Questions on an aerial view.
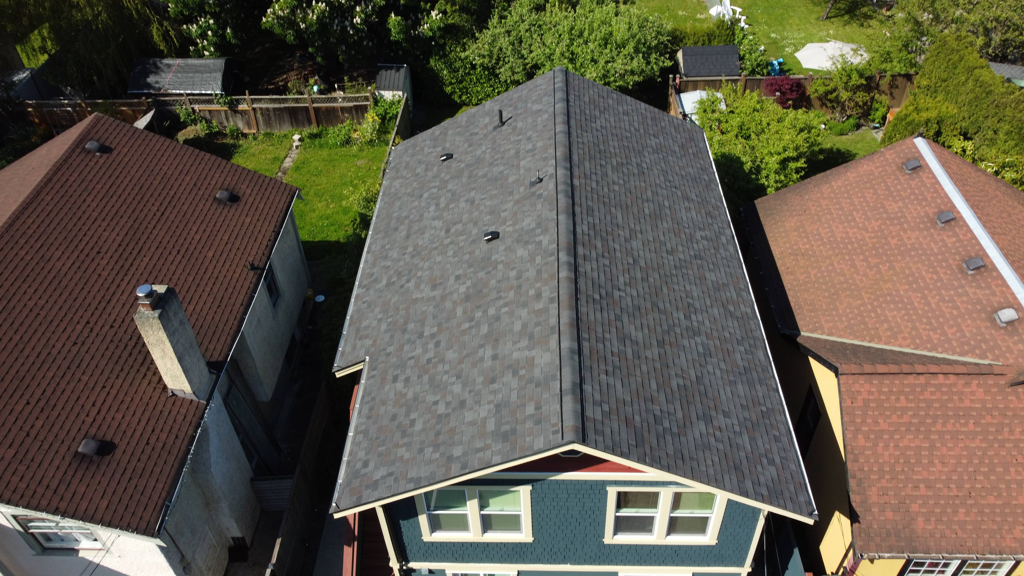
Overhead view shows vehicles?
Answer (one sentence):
No, no vehicle can be seen from above.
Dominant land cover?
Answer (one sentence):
The bulk of the photo consists of buildings.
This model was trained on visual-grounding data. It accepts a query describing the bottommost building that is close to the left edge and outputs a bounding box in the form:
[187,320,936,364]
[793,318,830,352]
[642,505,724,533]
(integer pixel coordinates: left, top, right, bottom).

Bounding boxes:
[0,112,311,576]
